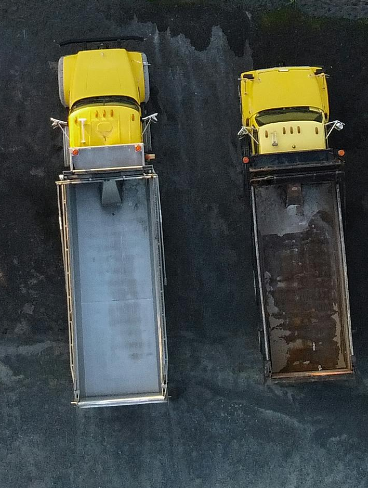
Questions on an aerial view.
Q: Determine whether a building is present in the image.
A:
No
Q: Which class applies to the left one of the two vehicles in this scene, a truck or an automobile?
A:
truck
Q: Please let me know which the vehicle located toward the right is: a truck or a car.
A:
truck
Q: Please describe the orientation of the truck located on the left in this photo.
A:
up and down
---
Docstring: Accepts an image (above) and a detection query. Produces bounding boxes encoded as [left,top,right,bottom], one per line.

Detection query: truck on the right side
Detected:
[232,64,359,384]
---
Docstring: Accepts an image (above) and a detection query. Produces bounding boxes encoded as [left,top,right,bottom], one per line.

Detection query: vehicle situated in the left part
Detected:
[50,32,173,410]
